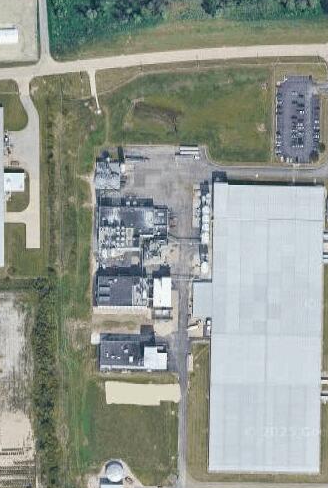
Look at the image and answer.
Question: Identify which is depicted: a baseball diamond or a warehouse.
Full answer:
There is a warehouse in the scene.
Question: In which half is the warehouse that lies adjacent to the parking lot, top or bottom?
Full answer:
It is in the bottom half that the warehouse that lies adjacent to the parking lot appears.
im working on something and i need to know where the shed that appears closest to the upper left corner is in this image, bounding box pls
[0,27,19,44]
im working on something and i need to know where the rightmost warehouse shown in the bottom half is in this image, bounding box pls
[209,183,325,473]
